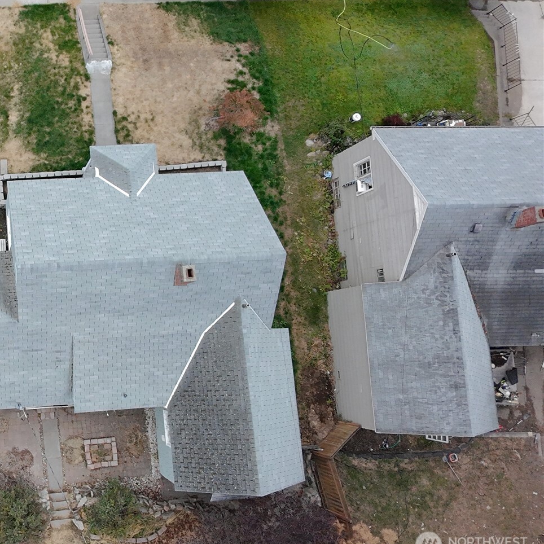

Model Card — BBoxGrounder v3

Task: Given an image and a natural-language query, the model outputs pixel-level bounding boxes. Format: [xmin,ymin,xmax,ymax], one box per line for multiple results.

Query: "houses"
[327,123,544,437]
[0,143,305,501]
